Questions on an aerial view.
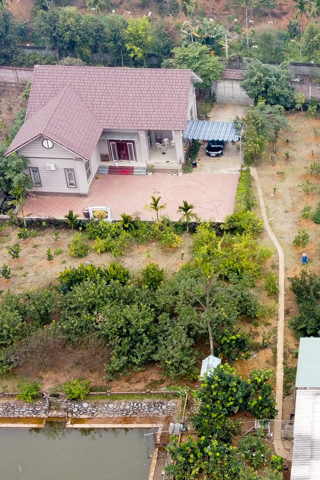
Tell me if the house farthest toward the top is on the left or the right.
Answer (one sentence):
The house farthest toward the top is on the left side of the image.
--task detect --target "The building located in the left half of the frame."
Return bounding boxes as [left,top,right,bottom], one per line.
[4,64,200,196]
